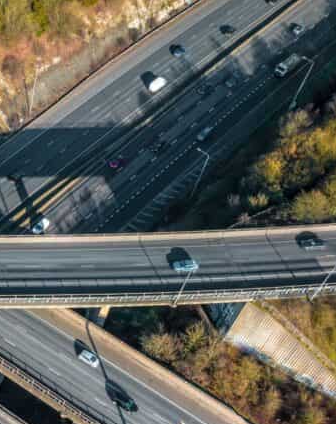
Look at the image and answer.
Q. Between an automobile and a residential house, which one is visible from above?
automobile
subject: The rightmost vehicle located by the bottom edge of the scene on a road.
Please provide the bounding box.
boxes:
[112,390,140,412]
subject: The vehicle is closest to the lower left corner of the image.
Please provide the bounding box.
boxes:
[76,347,101,367]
